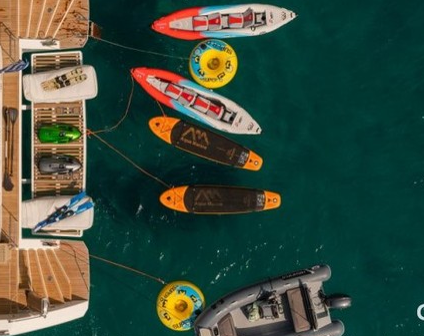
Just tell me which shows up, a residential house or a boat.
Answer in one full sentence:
The one in the frame is a boat.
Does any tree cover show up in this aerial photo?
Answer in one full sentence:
No, the scene doesn't show any tree cover.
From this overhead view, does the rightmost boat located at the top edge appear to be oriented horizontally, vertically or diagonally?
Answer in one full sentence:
In this picture, the rightmost boat located at the top edge is oriented horizontally.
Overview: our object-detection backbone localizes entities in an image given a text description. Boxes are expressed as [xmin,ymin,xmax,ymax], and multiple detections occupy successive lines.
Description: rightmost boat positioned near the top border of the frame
[151,3,296,39]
